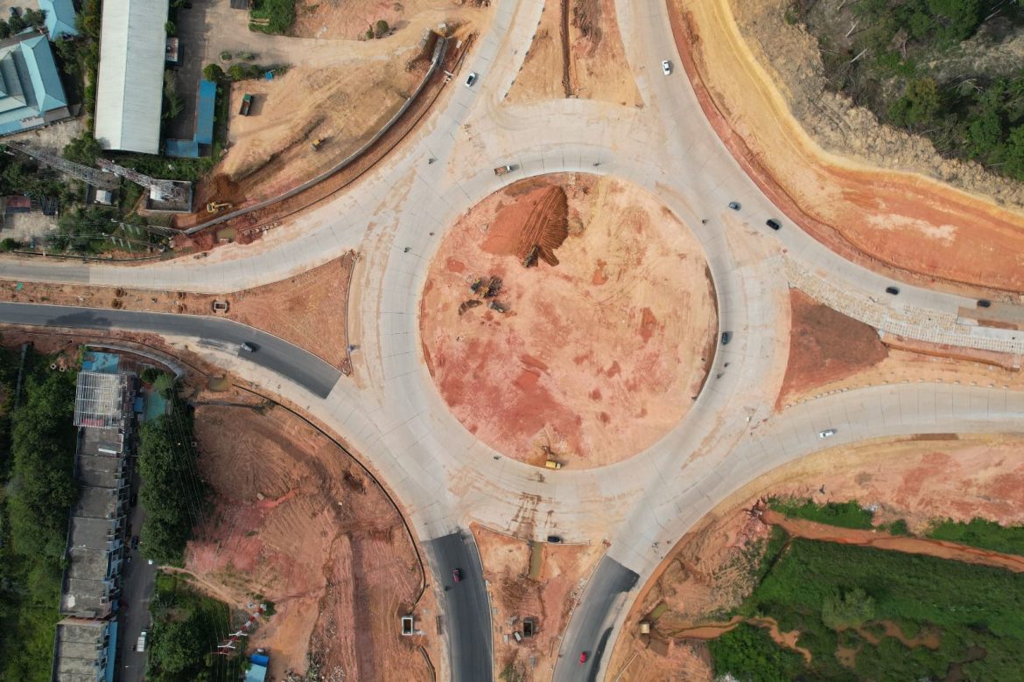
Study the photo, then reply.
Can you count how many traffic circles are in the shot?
1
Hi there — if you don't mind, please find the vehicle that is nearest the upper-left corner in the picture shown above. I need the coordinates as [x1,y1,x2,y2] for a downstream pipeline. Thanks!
[235,91,251,115]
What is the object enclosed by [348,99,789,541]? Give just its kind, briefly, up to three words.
roundabout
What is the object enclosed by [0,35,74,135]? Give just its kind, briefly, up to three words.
house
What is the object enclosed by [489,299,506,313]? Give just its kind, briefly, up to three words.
vehicle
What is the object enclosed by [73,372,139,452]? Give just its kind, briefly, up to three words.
building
